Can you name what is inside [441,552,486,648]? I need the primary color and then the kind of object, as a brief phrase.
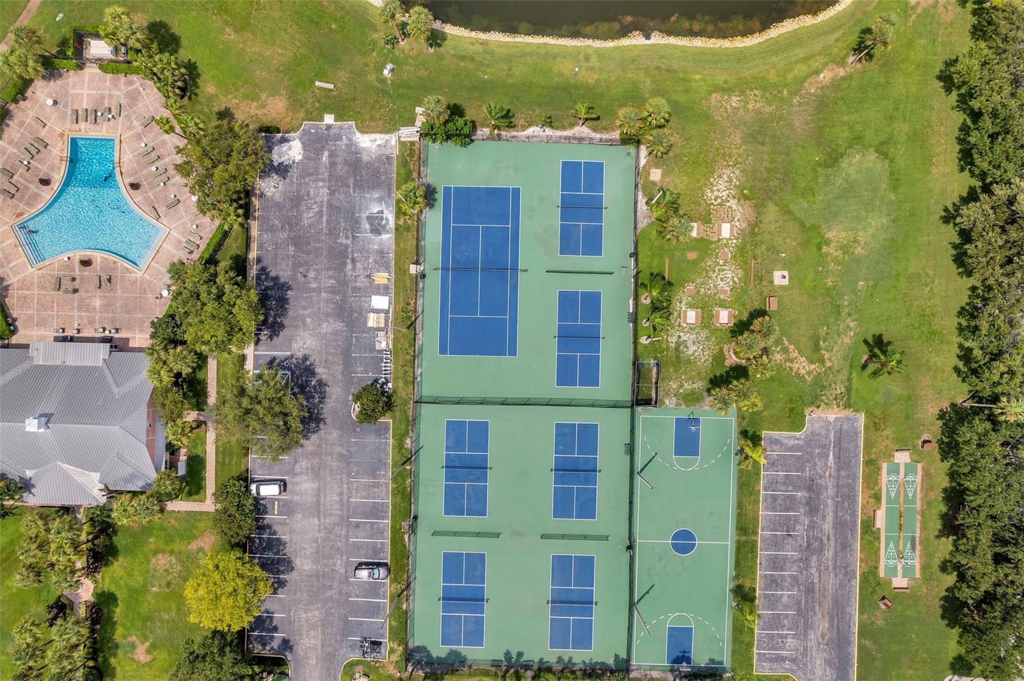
blue sports court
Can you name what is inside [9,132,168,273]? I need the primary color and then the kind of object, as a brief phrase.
blue swimming pool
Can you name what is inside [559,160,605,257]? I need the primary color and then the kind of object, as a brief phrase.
blue sports court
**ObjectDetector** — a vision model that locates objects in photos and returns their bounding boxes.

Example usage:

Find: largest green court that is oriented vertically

[632,408,736,673]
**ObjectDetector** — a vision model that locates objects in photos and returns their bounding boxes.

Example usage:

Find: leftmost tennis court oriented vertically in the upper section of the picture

[439,186,521,357]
